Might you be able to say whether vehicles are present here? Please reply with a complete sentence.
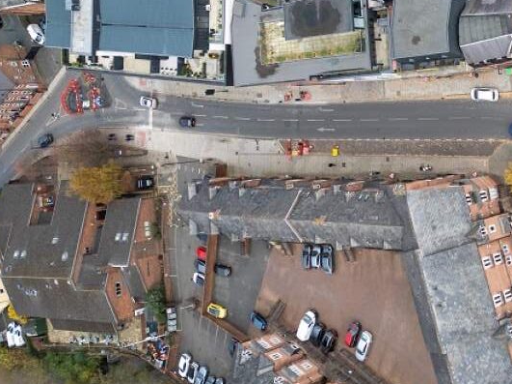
Yes, there's a vehicle here.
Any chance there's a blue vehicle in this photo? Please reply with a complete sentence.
Yes, the image includes a blue vehicle.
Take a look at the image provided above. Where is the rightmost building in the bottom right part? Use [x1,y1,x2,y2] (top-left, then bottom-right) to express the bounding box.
[397,176,512,384]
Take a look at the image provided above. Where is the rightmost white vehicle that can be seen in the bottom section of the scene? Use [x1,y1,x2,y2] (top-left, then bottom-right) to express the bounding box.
[354,332,374,362]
